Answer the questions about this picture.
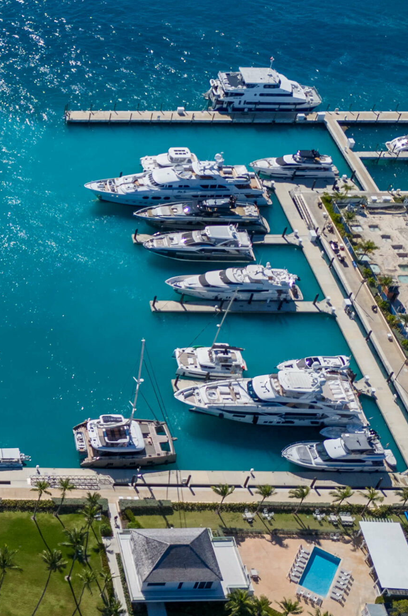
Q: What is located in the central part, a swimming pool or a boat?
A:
boat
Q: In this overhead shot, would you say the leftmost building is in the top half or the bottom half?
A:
bottom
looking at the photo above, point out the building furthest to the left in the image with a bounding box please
[108,515,254,614]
